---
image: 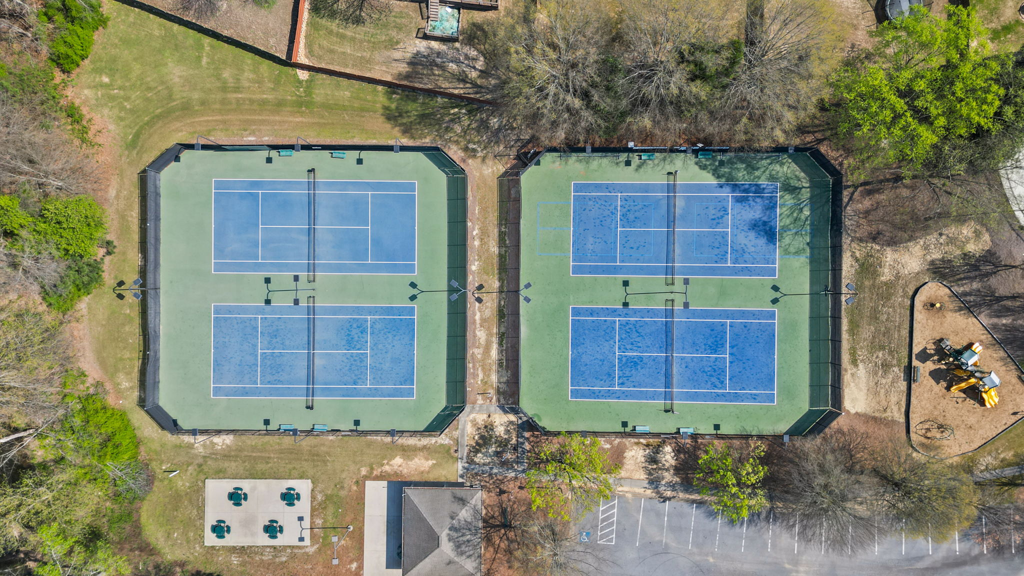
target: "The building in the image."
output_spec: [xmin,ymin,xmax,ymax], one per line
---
[402,483,483,576]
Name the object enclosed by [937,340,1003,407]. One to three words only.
playground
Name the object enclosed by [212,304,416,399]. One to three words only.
tennis court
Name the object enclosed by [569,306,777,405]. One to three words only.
tennis court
